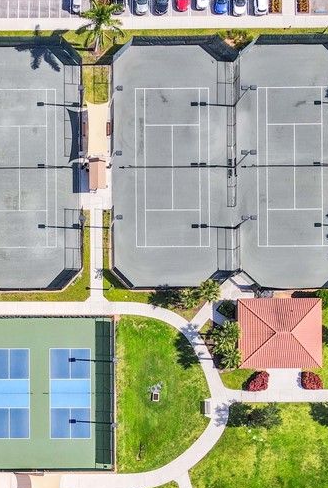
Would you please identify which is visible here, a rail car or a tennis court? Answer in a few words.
tennis court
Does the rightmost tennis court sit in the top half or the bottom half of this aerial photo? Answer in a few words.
top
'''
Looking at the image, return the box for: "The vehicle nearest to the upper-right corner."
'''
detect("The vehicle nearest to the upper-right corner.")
[254,0,270,14]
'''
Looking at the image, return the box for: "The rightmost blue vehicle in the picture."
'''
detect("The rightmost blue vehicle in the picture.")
[214,0,228,12]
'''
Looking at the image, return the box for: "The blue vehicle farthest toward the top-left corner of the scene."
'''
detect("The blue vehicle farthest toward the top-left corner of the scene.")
[155,0,170,13]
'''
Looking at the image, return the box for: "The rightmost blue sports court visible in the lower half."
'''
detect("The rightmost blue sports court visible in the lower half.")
[45,348,95,439]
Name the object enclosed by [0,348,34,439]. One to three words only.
sports court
